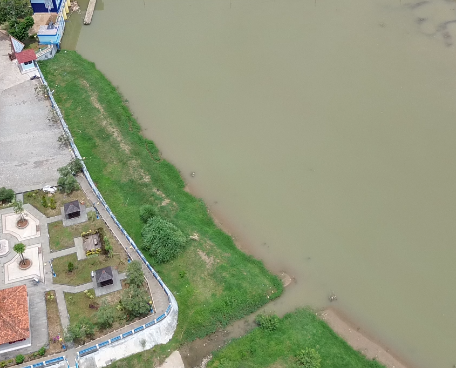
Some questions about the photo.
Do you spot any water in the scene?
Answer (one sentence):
Yes, some water is visible.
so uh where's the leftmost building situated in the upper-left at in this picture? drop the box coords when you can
[15,49,39,75]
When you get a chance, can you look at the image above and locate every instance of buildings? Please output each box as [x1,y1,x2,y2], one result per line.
[93,264,116,292]
[0,283,34,359]
[62,198,82,222]
[33,16,67,56]
[29,0,64,14]
[15,49,39,75]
